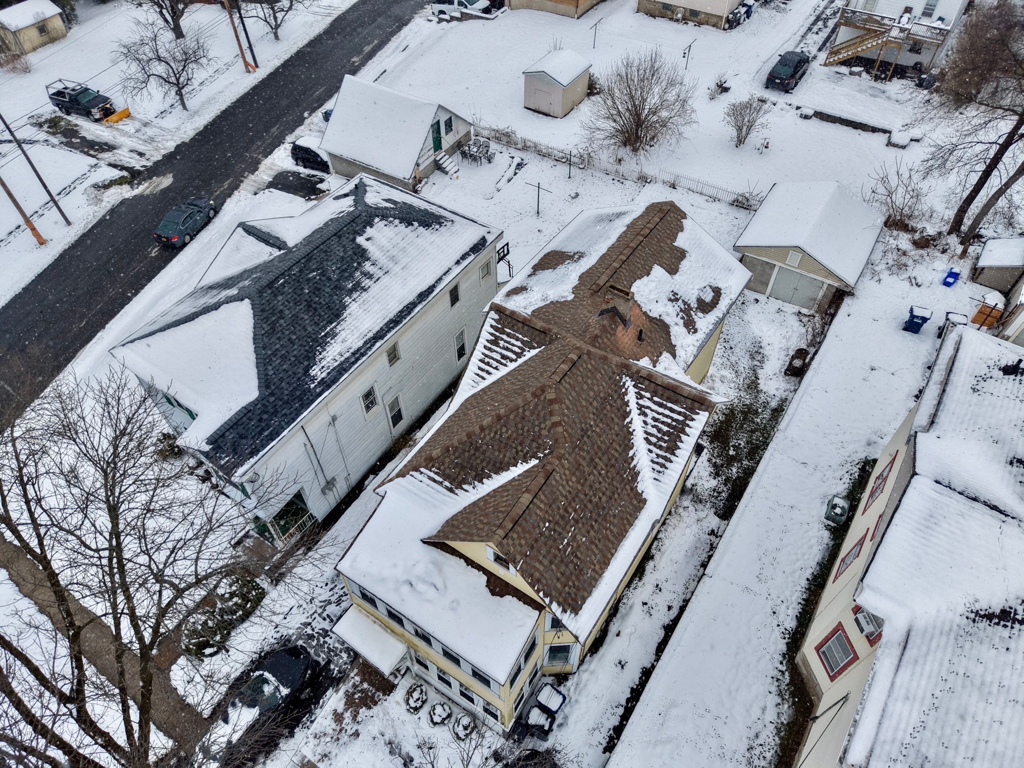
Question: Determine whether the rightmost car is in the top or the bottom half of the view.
top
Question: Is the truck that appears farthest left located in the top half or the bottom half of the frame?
top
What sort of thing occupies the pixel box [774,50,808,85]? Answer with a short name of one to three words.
car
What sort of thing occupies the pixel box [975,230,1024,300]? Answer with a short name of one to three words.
shed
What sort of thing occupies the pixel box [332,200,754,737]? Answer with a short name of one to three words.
house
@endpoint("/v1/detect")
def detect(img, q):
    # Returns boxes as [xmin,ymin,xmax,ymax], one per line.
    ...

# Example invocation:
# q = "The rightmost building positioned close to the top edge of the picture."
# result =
[825,0,962,76]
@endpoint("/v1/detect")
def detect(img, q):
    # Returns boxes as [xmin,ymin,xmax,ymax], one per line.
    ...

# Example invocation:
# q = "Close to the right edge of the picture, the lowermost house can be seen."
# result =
[799,321,1024,768]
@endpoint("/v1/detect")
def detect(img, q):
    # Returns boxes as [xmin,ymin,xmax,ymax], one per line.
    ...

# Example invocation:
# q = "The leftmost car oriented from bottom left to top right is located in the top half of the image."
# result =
[151,193,216,246]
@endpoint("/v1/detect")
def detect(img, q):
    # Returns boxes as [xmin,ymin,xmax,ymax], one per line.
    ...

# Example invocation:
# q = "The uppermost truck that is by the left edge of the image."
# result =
[41,76,131,128]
